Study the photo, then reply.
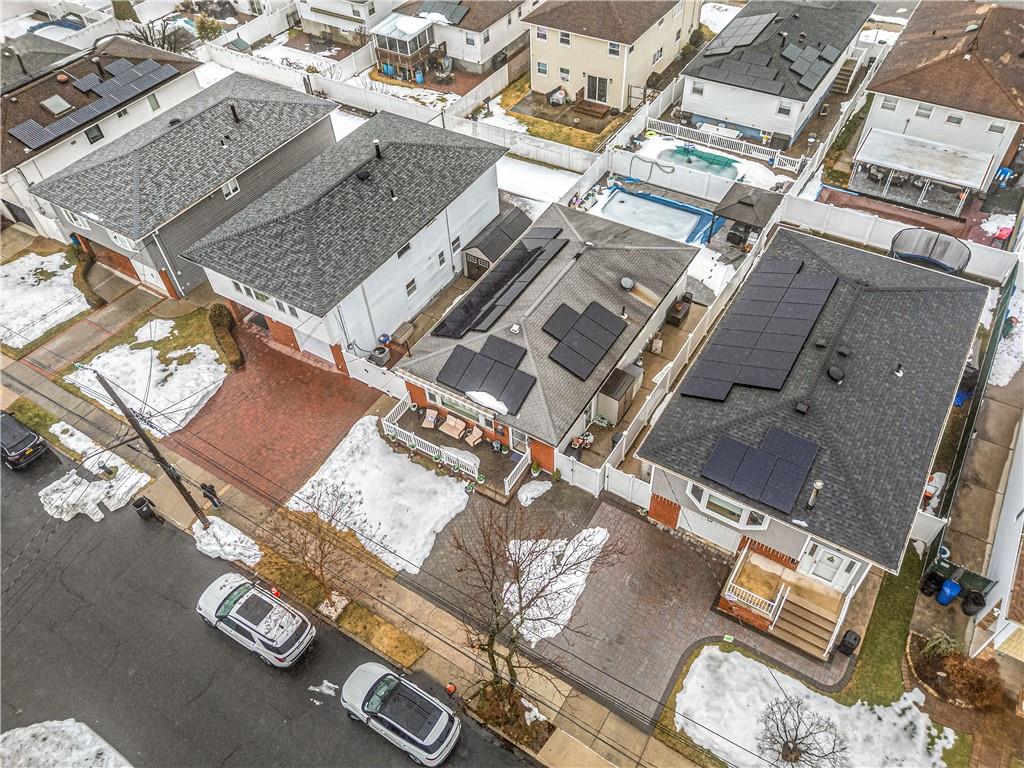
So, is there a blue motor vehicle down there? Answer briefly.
No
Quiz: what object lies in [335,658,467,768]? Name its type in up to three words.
car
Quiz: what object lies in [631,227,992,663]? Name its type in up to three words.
house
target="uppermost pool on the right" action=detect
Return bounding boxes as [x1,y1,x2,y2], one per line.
[643,145,749,184]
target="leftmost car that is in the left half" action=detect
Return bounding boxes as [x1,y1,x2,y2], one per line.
[0,400,47,468]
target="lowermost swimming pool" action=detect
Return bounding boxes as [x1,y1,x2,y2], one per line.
[593,182,735,248]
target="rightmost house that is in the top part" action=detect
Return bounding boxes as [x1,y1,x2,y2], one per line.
[857,0,1024,164]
